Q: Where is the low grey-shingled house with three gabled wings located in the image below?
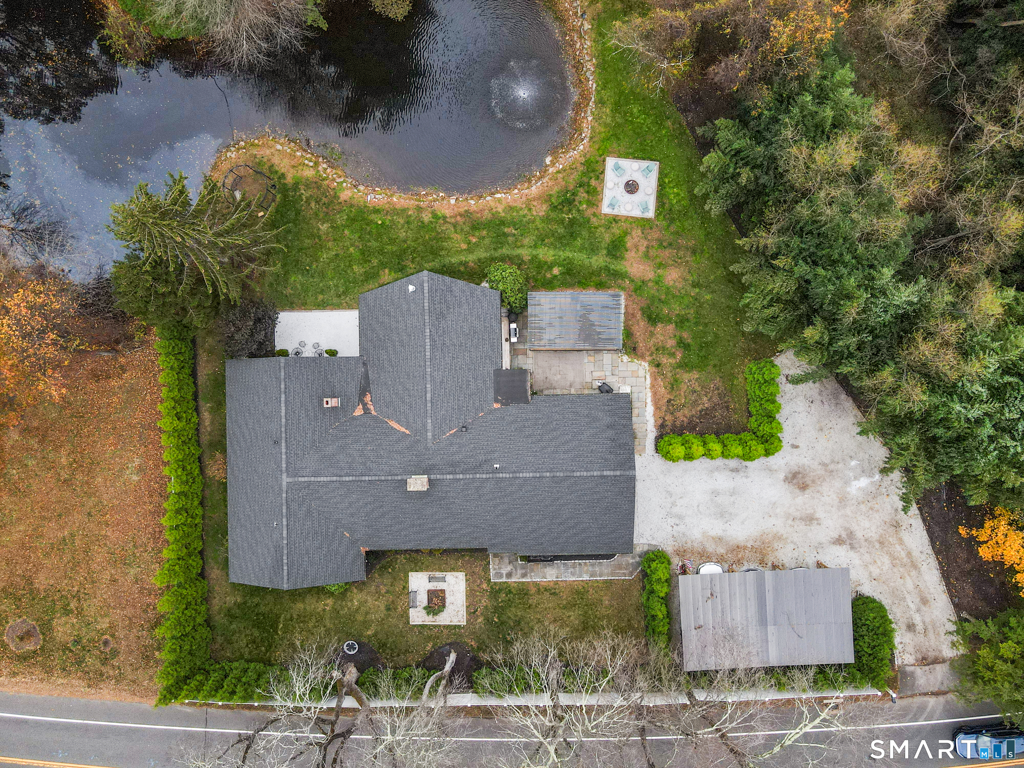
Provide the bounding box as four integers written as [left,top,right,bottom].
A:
[225,270,636,590]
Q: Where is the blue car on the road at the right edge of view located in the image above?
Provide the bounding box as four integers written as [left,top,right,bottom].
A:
[954,724,1024,762]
